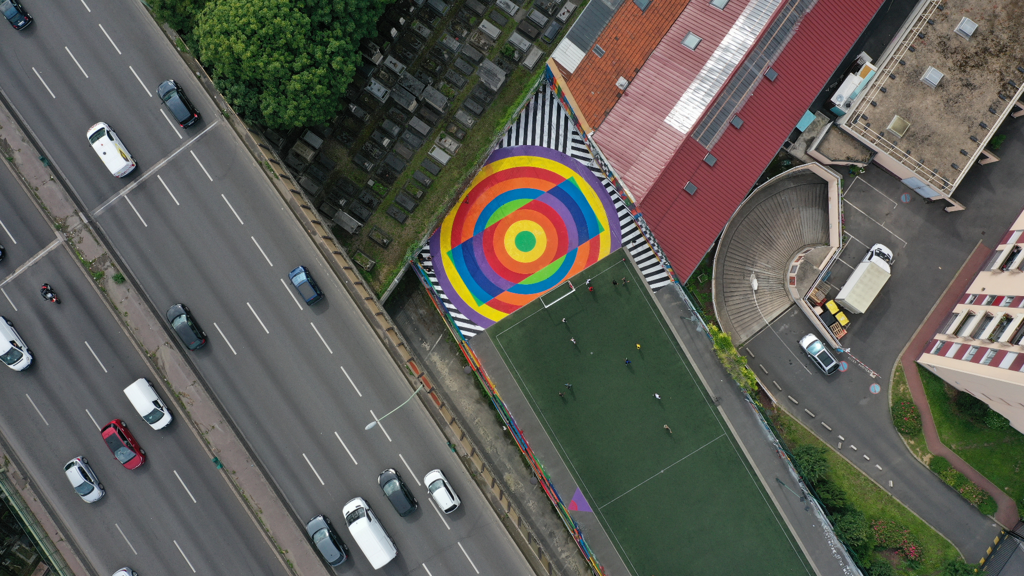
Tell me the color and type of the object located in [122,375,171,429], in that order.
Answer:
white van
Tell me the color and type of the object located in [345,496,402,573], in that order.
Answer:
white van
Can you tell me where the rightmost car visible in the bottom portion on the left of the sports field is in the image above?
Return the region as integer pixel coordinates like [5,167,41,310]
[426,467,464,518]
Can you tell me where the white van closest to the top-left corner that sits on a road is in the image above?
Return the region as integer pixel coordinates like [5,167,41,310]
[87,117,138,176]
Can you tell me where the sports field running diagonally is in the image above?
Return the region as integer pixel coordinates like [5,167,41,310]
[486,249,813,576]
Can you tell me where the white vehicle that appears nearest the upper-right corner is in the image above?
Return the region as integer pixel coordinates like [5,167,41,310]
[835,241,898,317]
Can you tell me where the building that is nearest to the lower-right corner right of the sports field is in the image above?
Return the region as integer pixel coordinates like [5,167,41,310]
[917,209,1024,436]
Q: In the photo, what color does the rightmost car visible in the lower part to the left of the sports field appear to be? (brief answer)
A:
white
